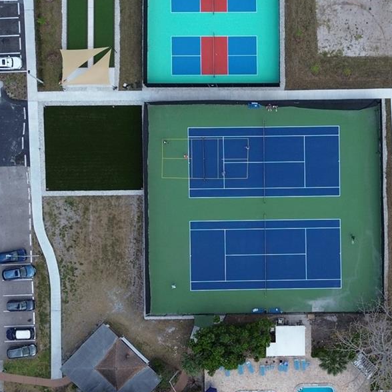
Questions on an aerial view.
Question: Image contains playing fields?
Yes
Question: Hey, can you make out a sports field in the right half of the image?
No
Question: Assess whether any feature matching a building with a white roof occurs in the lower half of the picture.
Yes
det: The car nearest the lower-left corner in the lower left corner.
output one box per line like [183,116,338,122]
[6,344,38,360]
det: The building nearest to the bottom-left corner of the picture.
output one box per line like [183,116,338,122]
[62,323,161,392]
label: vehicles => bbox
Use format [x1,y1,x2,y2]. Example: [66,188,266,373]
[3,265,35,280]
[7,327,34,341]
[0,55,23,71]
[0,249,28,264]
[6,298,35,312]
[6,344,38,360]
